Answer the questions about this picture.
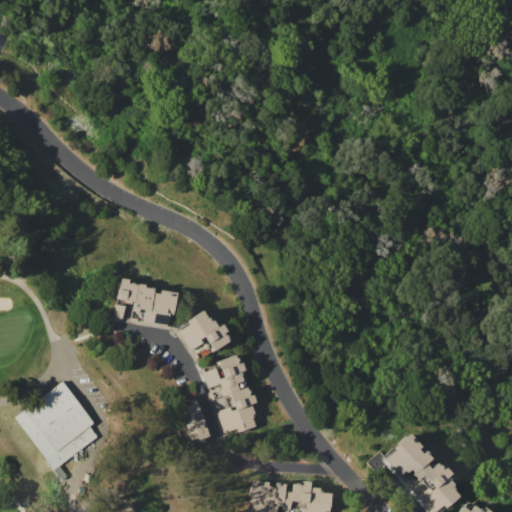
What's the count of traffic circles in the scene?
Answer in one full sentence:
No traffic circles are visible.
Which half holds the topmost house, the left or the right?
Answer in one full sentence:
You can find the topmost house on the left side of the picture.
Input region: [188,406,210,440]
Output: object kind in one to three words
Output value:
house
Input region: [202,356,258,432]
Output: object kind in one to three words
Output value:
house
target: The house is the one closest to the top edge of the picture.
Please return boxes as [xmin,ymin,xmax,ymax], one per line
[116,278,179,324]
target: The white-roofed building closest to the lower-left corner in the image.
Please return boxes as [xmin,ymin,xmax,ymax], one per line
[16,384,98,480]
